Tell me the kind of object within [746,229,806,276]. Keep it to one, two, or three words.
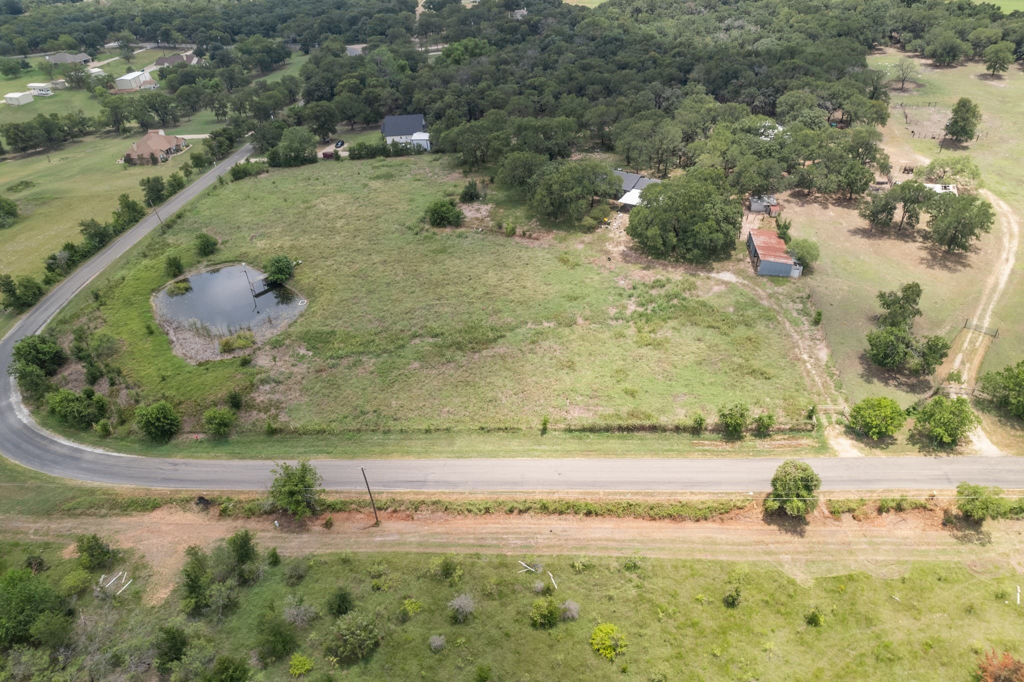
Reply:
barn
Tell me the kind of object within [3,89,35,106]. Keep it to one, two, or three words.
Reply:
barn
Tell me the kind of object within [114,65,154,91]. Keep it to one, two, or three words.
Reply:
building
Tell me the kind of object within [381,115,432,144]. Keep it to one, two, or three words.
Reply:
house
